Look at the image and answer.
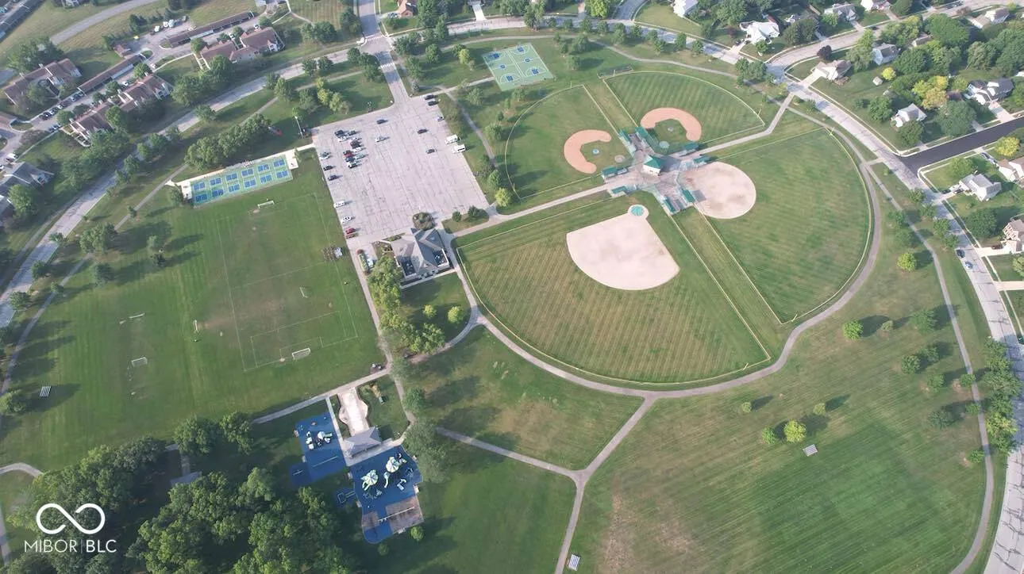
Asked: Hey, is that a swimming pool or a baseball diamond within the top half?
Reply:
baseball diamond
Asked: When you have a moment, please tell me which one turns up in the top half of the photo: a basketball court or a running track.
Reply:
basketball court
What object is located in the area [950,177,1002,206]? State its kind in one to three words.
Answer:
house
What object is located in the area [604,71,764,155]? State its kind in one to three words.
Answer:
baseball field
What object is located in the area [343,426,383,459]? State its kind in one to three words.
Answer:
building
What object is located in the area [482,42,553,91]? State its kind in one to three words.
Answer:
basketball court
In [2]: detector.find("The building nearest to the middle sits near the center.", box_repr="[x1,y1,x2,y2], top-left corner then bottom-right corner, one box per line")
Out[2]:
[391,229,448,279]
